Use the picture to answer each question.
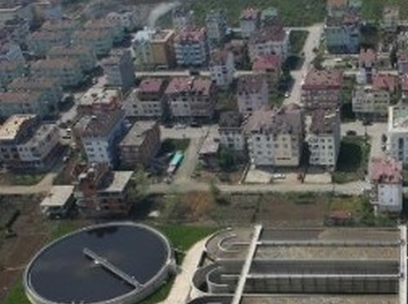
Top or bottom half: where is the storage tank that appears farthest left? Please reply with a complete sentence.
Seen from above, the storage tank that appears farthest left lies in the bottom half of the view.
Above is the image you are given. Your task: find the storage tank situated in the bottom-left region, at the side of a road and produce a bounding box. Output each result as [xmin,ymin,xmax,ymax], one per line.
[24,221,178,304]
